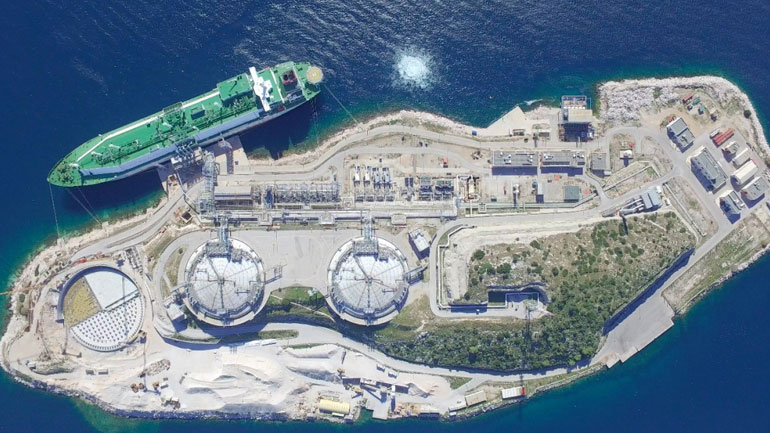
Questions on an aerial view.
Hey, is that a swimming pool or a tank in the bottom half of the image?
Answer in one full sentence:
The feature located in the bottom half of the image is a tank.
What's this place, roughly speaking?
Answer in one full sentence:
What you see here is a port.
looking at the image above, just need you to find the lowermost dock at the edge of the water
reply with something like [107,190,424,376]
[358,383,392,420]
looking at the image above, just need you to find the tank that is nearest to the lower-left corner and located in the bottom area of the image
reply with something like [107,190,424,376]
[50,262,144,352]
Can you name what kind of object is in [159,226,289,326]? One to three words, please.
storage tank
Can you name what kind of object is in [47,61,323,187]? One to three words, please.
ship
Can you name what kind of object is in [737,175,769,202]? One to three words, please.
building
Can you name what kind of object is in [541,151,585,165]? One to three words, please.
building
